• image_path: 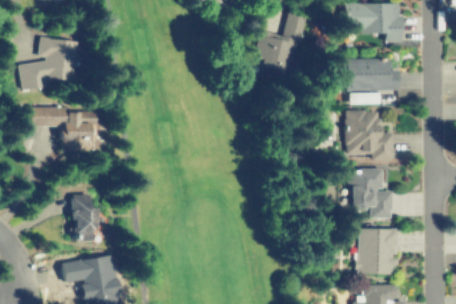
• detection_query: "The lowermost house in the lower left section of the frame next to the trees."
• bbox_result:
[61,256,125,304]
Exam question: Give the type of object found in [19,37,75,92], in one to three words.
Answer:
house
